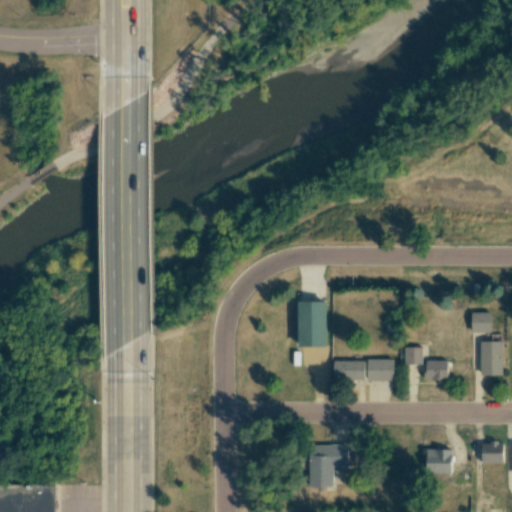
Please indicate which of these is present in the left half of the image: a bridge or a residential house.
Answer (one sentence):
The feature located in the left half of the image is a bridge.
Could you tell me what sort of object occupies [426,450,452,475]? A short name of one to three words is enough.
house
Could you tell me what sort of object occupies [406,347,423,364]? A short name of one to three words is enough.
building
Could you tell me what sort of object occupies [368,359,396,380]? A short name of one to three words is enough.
house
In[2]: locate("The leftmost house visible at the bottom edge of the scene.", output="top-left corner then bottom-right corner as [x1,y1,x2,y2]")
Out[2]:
[310,444,342,488]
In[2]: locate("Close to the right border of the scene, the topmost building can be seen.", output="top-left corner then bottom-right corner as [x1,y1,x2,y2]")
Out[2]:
[472,312,492,334]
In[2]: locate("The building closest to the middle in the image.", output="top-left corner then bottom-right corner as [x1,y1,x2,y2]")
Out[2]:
[298,302,328,346]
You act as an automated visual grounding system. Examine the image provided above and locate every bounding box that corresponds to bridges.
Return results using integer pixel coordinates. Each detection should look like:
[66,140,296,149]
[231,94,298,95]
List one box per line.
[98,82,158,362]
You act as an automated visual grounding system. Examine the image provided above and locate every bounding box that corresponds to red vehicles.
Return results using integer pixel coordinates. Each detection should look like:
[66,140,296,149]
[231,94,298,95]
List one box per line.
[131,8,138,24]
[486,402,500,408]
